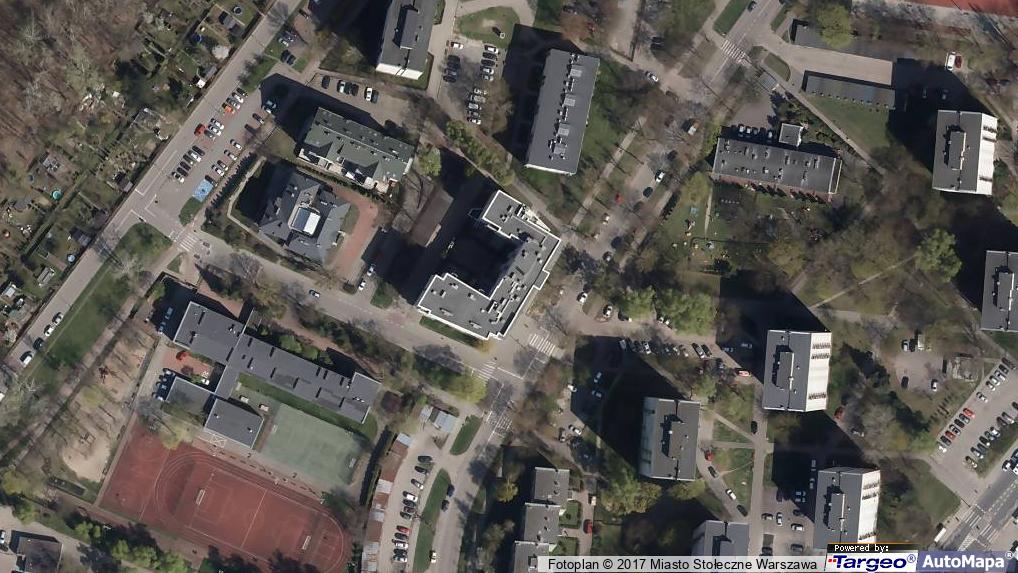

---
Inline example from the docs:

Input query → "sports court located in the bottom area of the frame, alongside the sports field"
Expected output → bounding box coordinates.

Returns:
[259,404,367,489]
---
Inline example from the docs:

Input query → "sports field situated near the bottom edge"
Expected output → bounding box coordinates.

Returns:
[160,464,338,573]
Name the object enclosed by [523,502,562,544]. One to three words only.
house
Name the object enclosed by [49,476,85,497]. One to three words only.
shed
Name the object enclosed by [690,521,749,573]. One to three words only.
building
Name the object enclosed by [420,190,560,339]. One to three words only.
building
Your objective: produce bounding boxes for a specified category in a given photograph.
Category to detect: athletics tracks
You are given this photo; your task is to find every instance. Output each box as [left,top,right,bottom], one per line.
[99,415,346,573]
